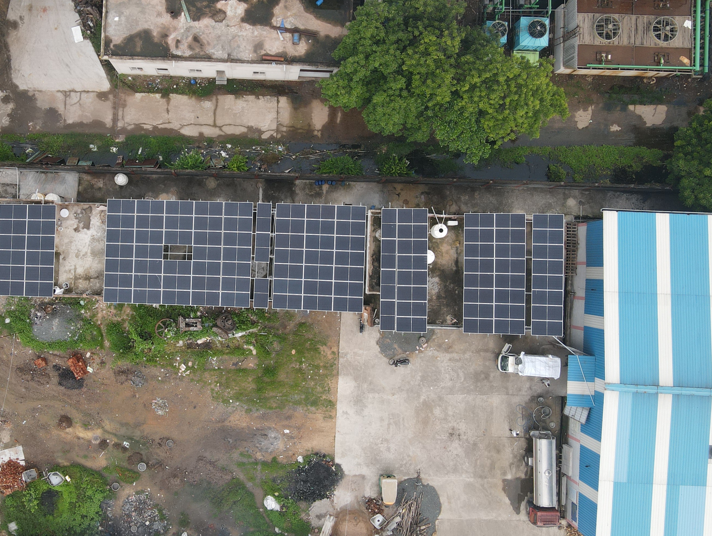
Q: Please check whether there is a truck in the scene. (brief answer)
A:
Yes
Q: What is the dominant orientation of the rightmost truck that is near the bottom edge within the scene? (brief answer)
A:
up and down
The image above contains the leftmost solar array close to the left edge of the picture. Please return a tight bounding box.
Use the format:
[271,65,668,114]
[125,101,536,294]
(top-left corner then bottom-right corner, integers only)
[0,201,63,301]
